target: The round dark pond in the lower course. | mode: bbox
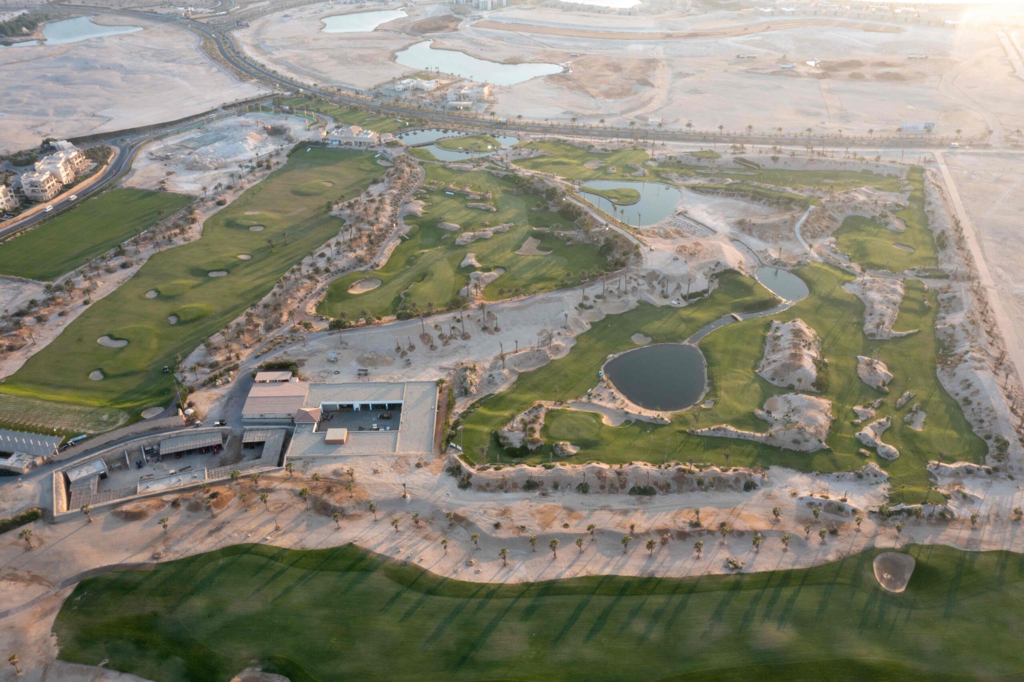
[604,343,706,411]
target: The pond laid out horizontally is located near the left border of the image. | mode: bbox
[0,16,144,47]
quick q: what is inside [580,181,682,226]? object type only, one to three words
pond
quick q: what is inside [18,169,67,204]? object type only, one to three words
house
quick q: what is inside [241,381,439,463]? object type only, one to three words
building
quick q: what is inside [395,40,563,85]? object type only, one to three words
pond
